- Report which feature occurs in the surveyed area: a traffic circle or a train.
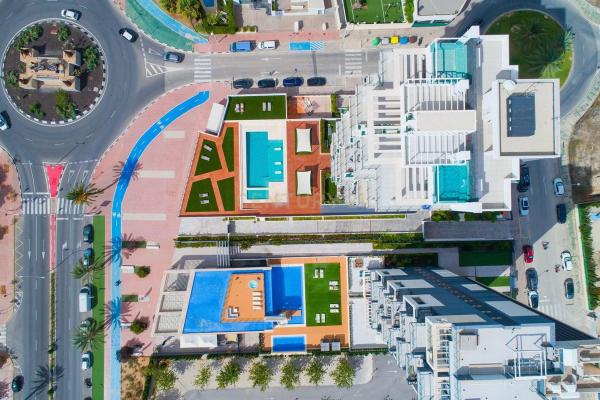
traffic circle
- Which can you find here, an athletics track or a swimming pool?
swimming pool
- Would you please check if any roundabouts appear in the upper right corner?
Yes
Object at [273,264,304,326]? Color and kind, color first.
blue swimming pool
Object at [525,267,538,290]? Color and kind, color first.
blue vehicle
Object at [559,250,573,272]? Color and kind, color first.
white car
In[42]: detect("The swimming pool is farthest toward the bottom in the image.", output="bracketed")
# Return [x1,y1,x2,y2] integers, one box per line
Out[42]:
[271,335,306,353]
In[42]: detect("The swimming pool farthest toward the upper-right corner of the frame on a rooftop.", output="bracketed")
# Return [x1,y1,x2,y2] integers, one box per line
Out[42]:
[430,39,468,85]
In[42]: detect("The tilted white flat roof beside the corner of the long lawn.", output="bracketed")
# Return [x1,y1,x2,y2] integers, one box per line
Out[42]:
[206,103,226,135]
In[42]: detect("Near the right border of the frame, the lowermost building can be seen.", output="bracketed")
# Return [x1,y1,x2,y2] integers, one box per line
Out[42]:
[369,267,600,400]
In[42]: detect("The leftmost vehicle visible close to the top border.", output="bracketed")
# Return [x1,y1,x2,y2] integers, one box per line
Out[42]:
[59,9,81,21]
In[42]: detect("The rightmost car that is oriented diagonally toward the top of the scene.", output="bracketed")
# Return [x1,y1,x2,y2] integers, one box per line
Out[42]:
[120,27,139,43]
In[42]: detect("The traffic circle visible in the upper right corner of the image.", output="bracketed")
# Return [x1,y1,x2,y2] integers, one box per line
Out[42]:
[486,9,574,88]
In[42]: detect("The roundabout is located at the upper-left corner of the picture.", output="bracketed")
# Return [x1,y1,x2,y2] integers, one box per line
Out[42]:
[2,19,106,123]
